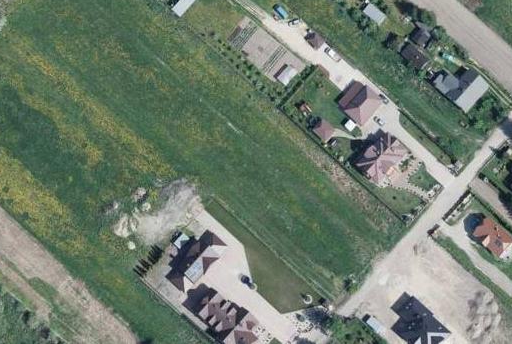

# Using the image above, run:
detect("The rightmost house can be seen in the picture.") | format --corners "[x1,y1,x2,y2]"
[472,219,512,258]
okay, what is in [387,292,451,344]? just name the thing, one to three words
house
